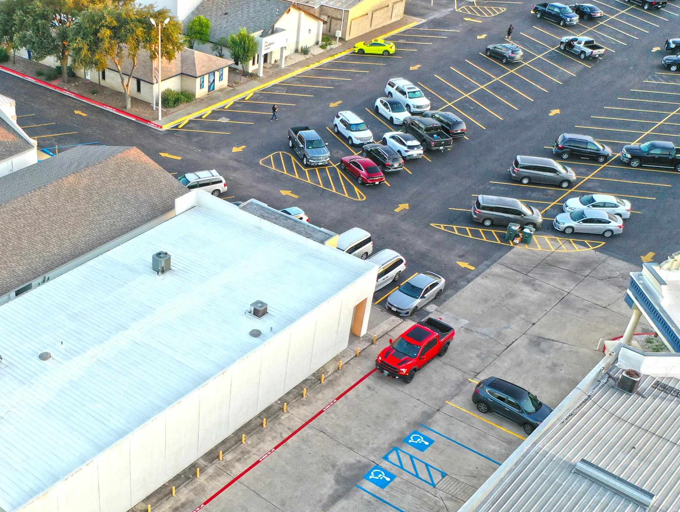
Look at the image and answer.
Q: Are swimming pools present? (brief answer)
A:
No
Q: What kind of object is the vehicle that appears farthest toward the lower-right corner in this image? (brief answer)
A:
automobile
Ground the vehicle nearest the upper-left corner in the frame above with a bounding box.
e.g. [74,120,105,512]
[181,169,233,198]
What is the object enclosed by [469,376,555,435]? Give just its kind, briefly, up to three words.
car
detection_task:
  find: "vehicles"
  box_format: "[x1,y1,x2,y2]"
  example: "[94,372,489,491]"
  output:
[536,2,581,26]
[336,225,380,260]
[665,56,680,71]
[568,2,603,20]
[401,115,451,150]
[340,155,385,185]
[388,75,432,111]
[353,38,397,56]
[559,35,606,60]
[374,97,412,124]
[288,127,331,167]
[569,194,641,222]
[365,245,411,295]
[386,270,448,315]
[486,40,525,63]
[420,109,464,137]
[181,169,233,198]
[551,133,617,162]
[624,0,668,10]
[371,320,456,385]
[382,131,424,158]
[554,208,626,236]
[363,142,405,172]
[473,194,547,229]
[332,111,374,146]
[622,141,680,168]
[512,156,582,187]
[469,376,555,435]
